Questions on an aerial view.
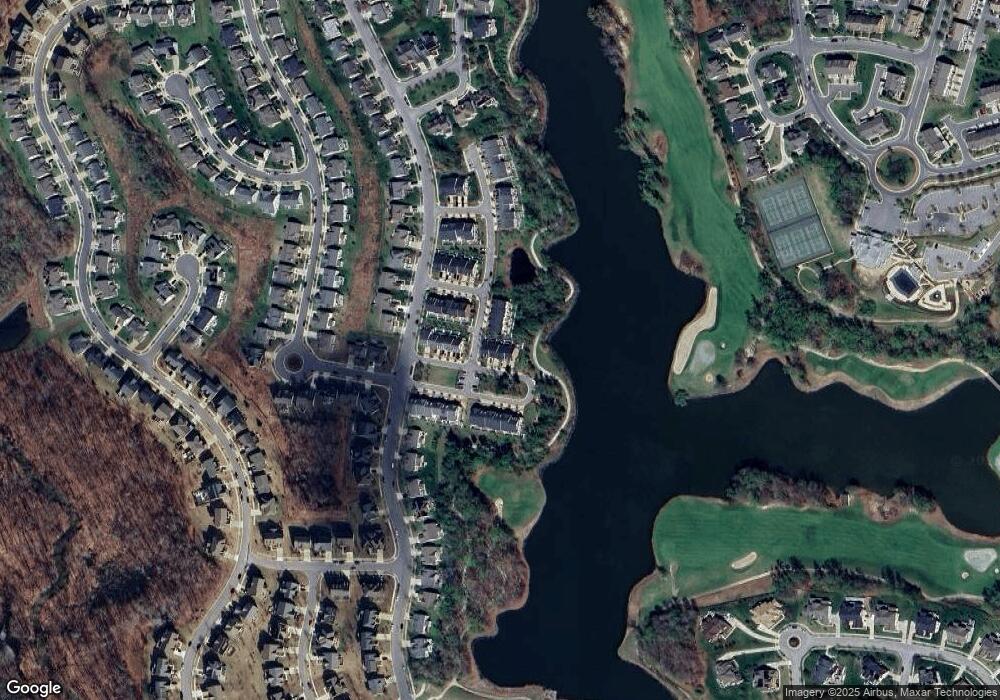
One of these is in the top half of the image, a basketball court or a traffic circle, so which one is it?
traffic circle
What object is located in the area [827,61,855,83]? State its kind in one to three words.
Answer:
building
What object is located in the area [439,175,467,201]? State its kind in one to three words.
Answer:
house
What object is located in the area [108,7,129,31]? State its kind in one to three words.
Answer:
house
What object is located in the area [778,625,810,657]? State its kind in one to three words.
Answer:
roundabout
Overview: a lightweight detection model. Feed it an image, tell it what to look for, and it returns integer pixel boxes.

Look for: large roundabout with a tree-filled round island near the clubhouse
[866,137,930,200]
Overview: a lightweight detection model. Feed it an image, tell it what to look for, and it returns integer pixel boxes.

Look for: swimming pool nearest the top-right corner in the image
[886,264,923,303]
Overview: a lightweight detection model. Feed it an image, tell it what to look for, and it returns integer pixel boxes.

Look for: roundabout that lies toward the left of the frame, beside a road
[273,342,312,381]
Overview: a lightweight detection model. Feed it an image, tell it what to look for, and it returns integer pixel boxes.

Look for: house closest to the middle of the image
[479,337,516,365]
